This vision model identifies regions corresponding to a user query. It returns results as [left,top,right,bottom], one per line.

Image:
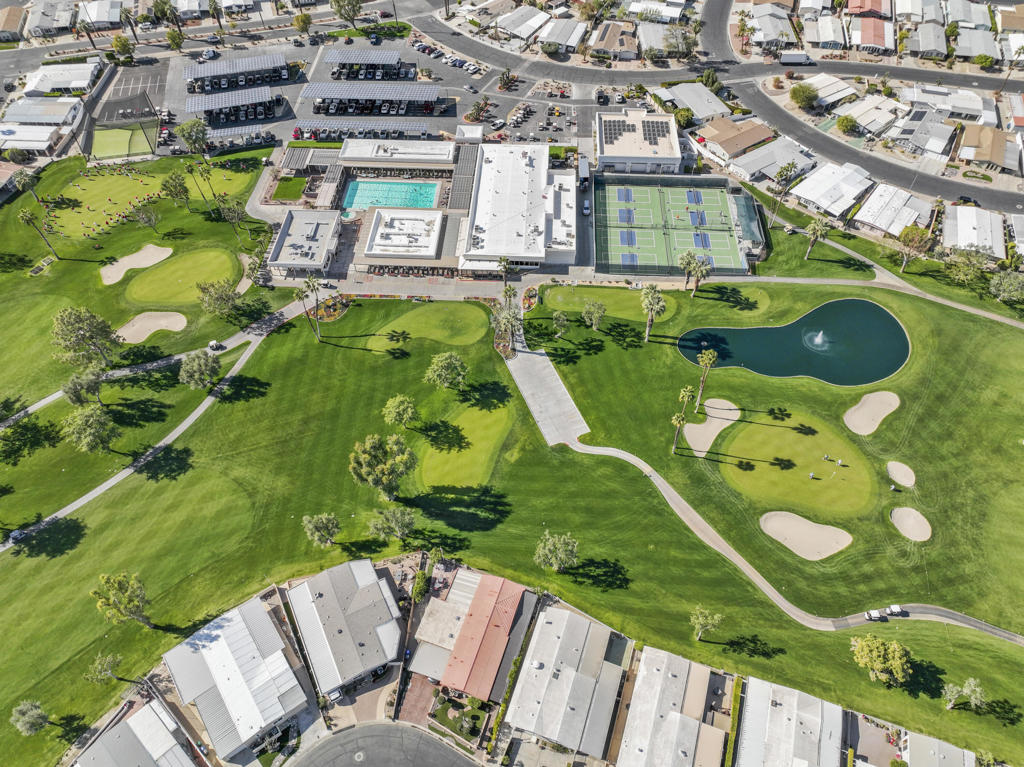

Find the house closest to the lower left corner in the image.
[77,700,194,767]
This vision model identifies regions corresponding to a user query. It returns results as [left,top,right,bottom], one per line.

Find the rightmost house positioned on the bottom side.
[902,731,975,767]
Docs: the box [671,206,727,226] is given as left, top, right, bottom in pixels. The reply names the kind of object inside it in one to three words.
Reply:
sports court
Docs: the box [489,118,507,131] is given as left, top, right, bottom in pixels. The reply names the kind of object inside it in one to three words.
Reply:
vehicle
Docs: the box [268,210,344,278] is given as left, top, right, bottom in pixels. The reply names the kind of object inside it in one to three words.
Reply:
building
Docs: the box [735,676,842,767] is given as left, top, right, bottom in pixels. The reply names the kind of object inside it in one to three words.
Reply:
house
